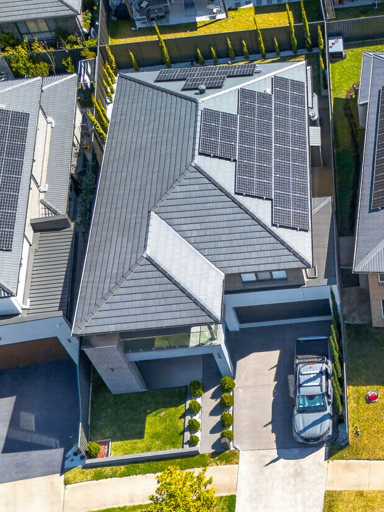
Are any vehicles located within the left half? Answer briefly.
No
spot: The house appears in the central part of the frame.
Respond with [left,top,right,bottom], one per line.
[69,60,340,394]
